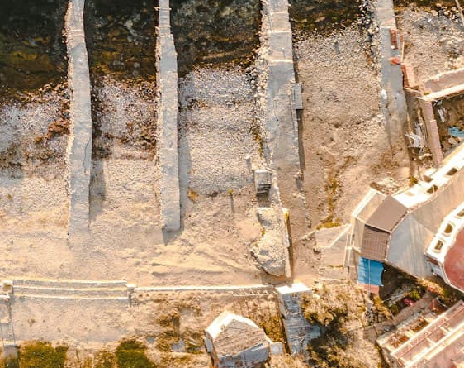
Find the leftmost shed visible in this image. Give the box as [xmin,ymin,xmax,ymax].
[200,305,283,368]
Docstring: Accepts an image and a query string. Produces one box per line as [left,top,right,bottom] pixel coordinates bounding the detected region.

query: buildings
[200,305,283,368]
[369,289,464,368]
[340,121,464,314]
